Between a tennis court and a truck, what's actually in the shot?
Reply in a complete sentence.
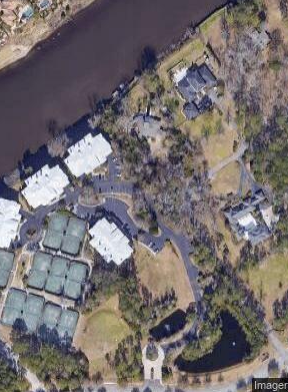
There is a tennis court in the scene.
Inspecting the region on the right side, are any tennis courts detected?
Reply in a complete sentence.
No, there's no tennis court to be seen on the right side.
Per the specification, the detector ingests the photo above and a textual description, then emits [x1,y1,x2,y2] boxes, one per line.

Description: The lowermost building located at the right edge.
[226,194,276,245]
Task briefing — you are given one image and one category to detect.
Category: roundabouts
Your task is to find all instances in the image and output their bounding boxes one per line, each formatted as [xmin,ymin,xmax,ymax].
[142,344,163,384]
